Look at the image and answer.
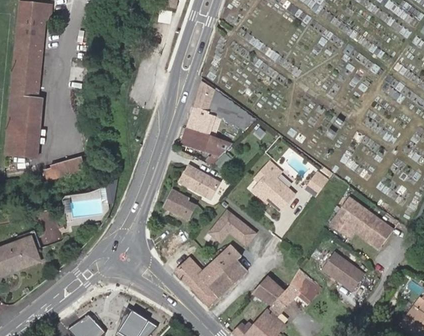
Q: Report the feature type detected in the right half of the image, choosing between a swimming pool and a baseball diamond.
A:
swimming pool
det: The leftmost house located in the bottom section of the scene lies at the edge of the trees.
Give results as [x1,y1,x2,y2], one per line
[0,232,42,278]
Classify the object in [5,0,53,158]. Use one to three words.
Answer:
building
